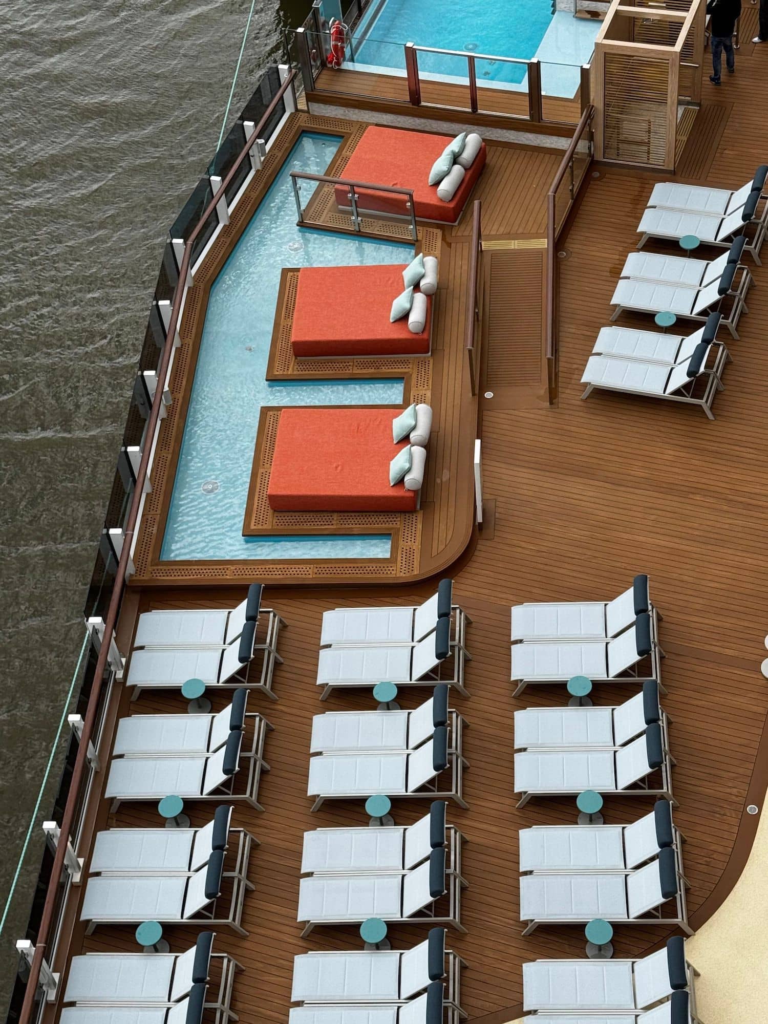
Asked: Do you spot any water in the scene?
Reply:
Yes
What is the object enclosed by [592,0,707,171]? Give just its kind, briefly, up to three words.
building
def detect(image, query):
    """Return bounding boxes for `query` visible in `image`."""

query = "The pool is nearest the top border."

[344,0,604,99]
